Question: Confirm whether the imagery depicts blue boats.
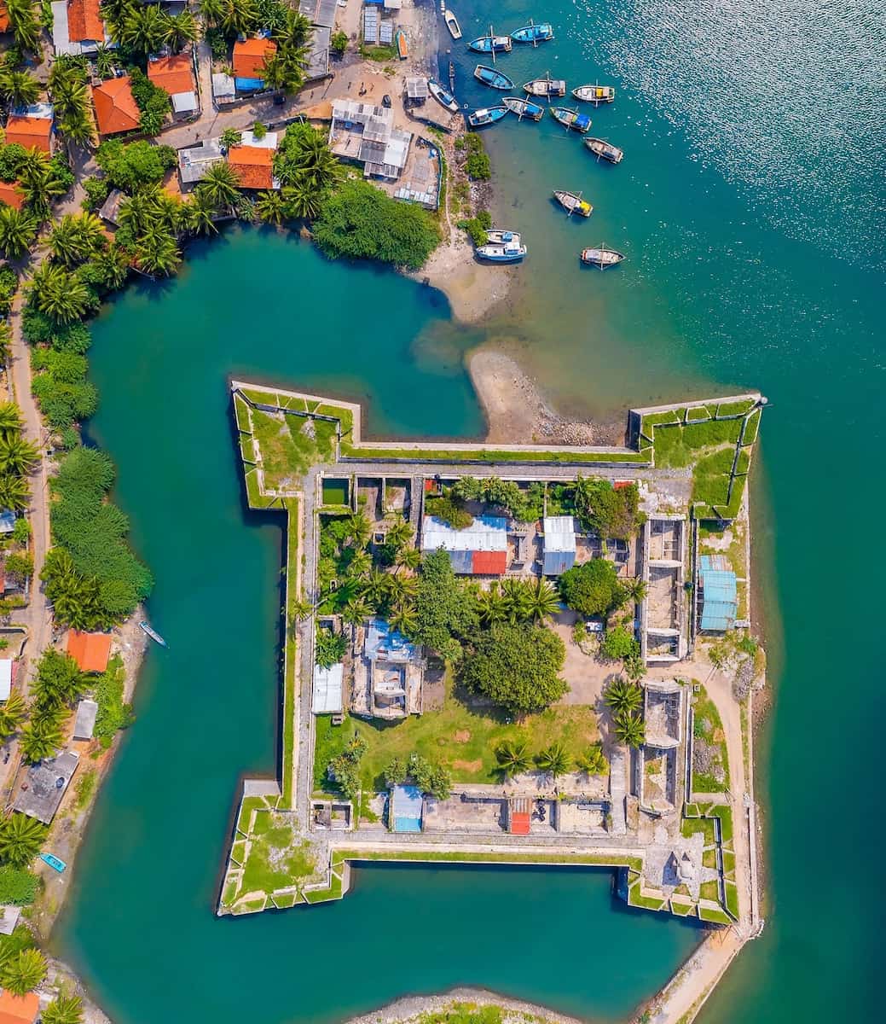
Yes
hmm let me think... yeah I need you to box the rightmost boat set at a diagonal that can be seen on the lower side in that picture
[140,621,169,648]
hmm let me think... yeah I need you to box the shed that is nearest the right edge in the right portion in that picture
[698,555,736,630]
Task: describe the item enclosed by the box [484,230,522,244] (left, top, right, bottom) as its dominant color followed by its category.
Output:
white boat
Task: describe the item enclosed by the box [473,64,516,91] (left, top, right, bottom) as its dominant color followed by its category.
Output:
blue boat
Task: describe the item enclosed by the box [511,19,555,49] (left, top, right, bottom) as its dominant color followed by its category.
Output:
blue boat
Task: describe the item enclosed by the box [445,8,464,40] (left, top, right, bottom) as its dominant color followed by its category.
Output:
white boat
